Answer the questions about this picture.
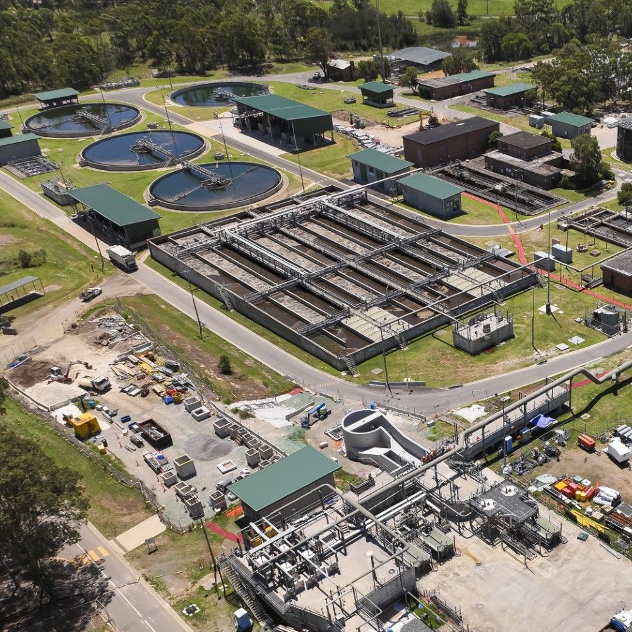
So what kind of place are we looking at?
industrial area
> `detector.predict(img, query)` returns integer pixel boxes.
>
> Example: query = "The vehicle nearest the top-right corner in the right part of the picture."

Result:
[412,103,443,125]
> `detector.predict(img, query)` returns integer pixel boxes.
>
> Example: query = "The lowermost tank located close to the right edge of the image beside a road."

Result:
[581,294,632,333]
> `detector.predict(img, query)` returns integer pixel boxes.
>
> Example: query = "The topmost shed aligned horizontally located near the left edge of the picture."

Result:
[28,86,82,108]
